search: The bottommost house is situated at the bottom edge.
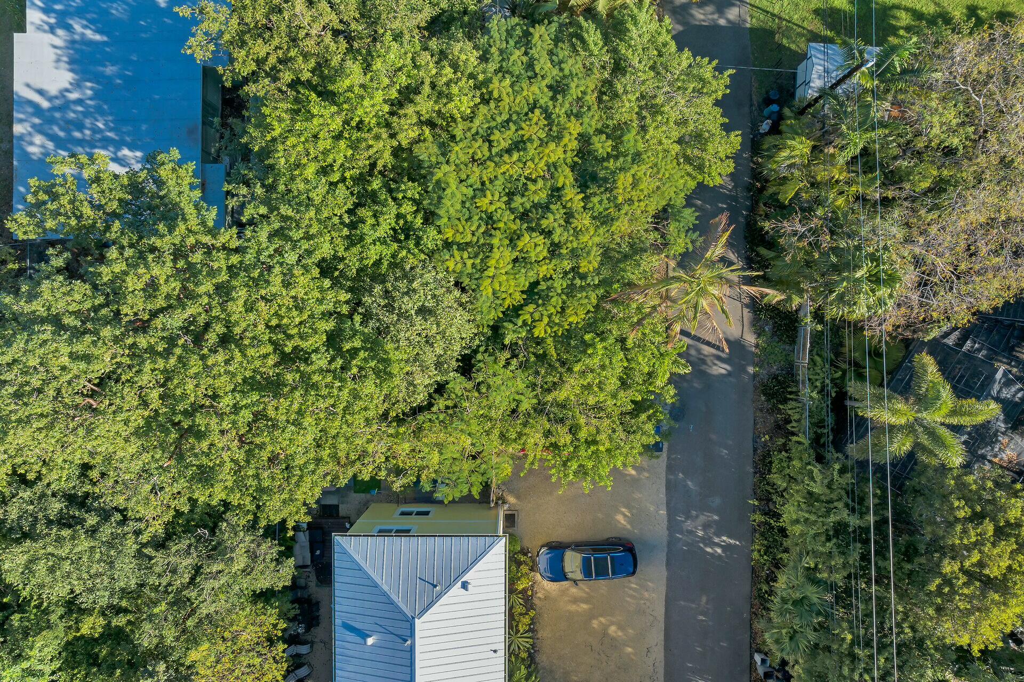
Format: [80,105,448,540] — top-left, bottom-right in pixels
[333,503,506,682]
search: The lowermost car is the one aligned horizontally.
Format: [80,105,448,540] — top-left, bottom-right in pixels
[534,536,638,588]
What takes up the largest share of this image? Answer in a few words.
trees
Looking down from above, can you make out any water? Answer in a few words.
No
